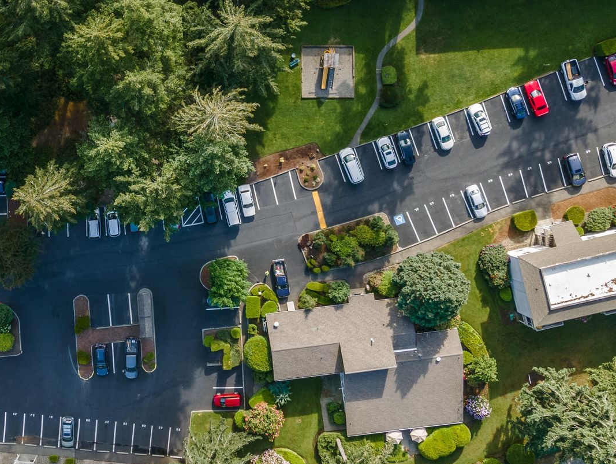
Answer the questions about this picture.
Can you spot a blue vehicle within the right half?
Yes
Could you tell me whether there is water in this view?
No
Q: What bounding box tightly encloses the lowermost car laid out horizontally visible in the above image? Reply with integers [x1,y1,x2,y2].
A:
[211,392,244,408]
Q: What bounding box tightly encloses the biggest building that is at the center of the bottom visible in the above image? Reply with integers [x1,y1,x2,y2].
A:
[265,293,464,437]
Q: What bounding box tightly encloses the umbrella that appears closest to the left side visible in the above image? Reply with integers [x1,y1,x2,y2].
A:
[384,430,402,444]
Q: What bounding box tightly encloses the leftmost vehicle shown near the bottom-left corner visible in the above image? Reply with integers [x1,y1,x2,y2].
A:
[58,415,75,447]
